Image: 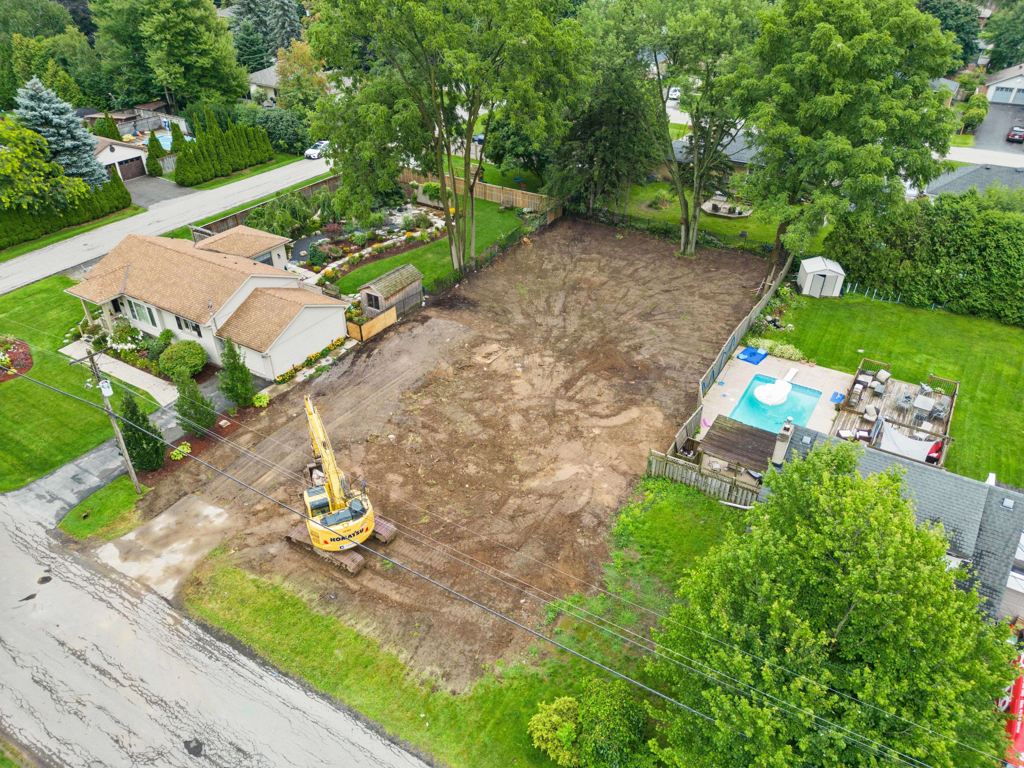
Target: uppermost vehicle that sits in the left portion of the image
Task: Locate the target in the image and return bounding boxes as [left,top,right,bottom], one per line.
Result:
[303,143,337,159]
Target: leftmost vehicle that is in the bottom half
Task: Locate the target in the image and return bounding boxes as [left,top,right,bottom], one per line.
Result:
[287,390,396,575]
